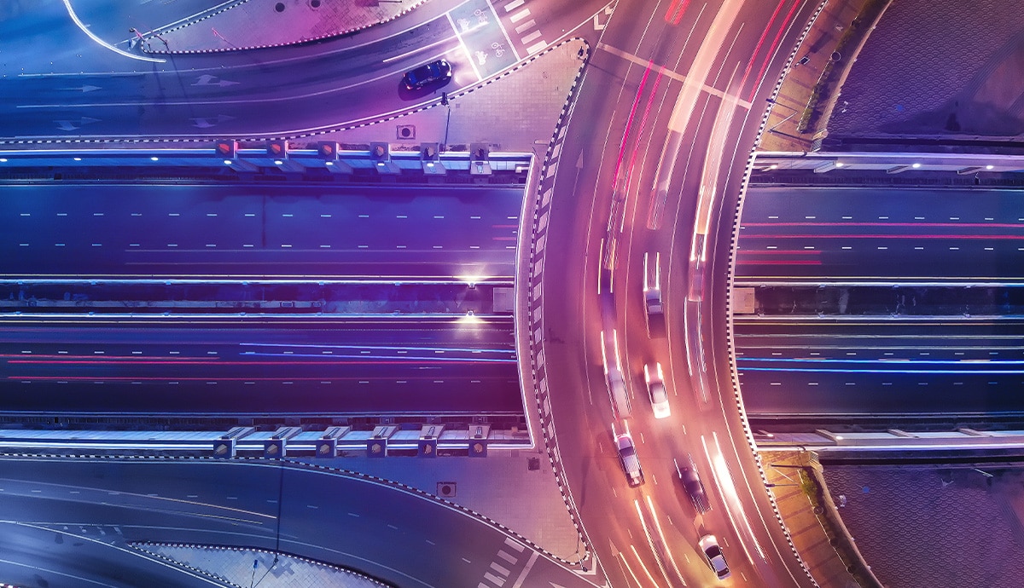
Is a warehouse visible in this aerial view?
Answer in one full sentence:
No, the frame has no warehouse in it.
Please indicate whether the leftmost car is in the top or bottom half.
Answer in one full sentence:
Seen from above, the leftmost car lies in the top half of the view.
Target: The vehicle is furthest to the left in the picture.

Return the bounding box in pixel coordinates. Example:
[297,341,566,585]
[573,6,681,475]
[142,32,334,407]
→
[399,57,452,89]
